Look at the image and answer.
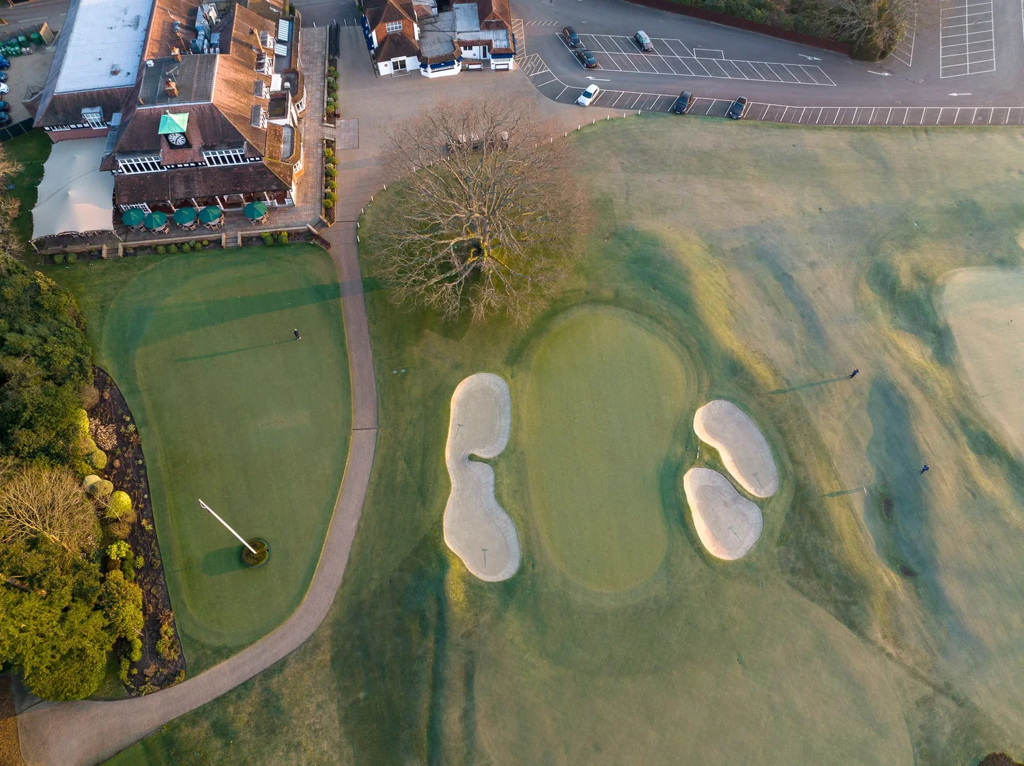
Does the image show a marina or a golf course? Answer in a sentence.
This looks like a golf course.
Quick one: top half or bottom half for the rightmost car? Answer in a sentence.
The rightmost car sits in the top half of the picture.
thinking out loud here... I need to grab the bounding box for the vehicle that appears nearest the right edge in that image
[730,94,750,116]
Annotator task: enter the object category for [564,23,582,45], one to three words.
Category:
car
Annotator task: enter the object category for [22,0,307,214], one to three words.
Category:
building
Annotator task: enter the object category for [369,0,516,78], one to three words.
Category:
building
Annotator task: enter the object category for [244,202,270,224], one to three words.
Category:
umbrella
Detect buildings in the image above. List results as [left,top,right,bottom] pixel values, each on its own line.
[369,0,516,78]
[22,0,307,214]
